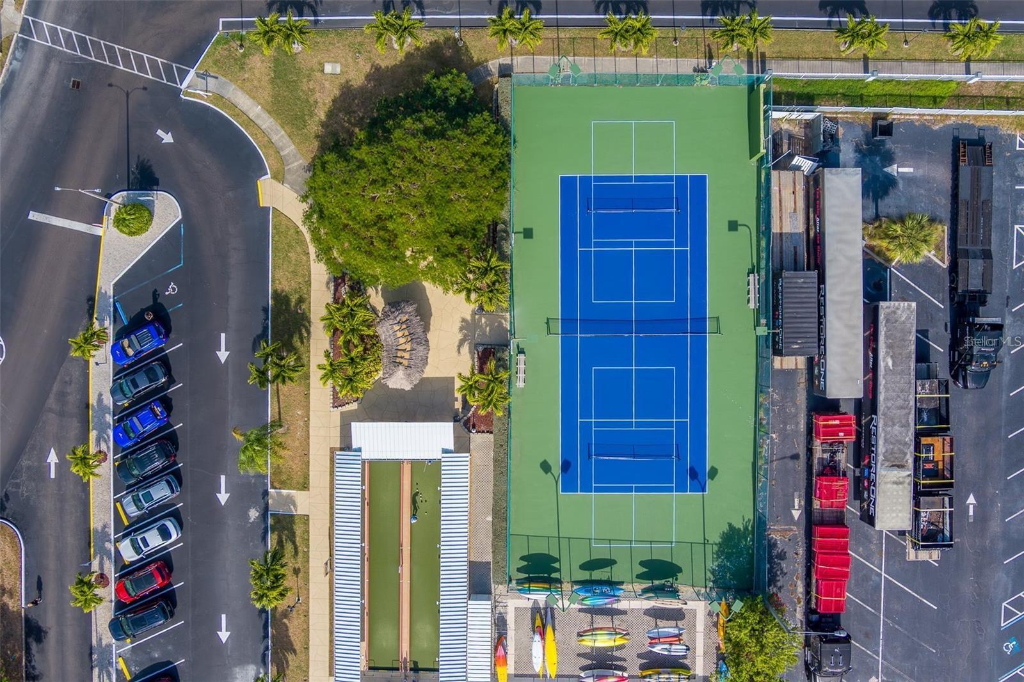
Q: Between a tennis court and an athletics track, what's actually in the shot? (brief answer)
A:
tennis court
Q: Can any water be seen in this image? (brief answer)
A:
No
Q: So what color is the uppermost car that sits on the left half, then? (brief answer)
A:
blue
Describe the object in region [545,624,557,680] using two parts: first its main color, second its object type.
yellow boat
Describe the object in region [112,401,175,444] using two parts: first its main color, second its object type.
blue car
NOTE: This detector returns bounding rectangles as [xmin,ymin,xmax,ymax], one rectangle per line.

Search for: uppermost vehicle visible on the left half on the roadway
[110,320,174,364]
